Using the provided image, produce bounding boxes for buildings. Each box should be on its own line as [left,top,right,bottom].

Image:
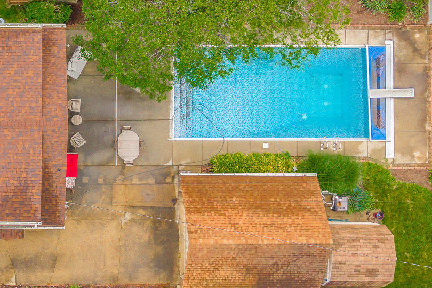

[0,21,70,239]
[169,173,331,288]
